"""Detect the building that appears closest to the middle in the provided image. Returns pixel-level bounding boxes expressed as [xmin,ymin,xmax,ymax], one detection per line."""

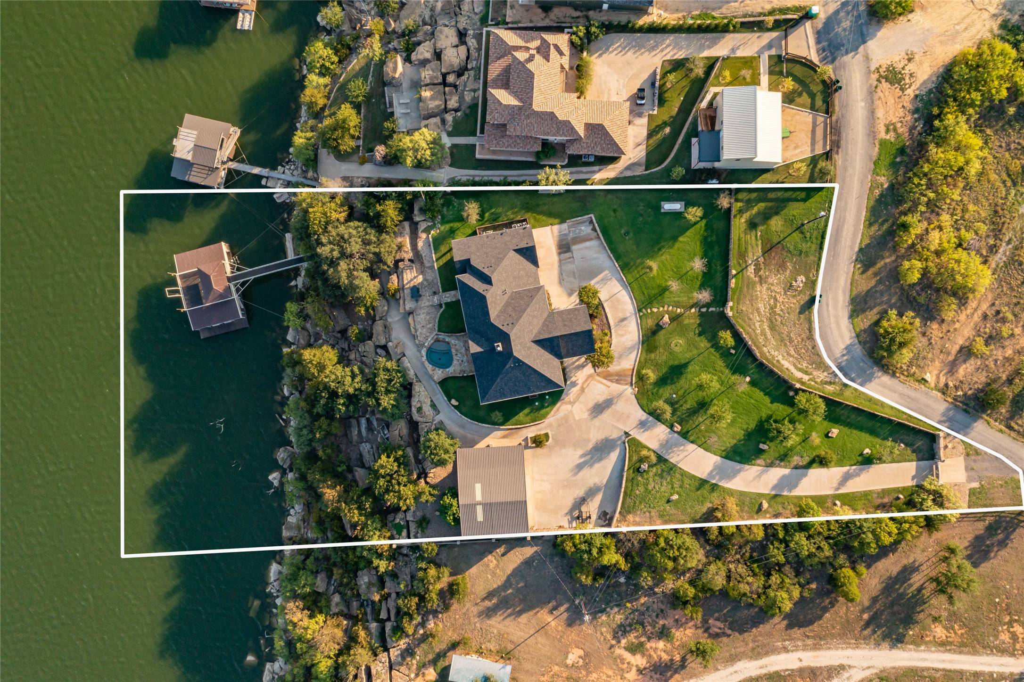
[451,226,596,404]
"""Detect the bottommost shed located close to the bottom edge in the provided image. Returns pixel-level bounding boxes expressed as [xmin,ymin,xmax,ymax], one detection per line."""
[447,648,512,682]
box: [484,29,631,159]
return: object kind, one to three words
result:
house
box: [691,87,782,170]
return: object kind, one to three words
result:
barn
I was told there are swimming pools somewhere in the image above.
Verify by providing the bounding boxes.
[424,340,454,370]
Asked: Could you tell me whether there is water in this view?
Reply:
Yes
